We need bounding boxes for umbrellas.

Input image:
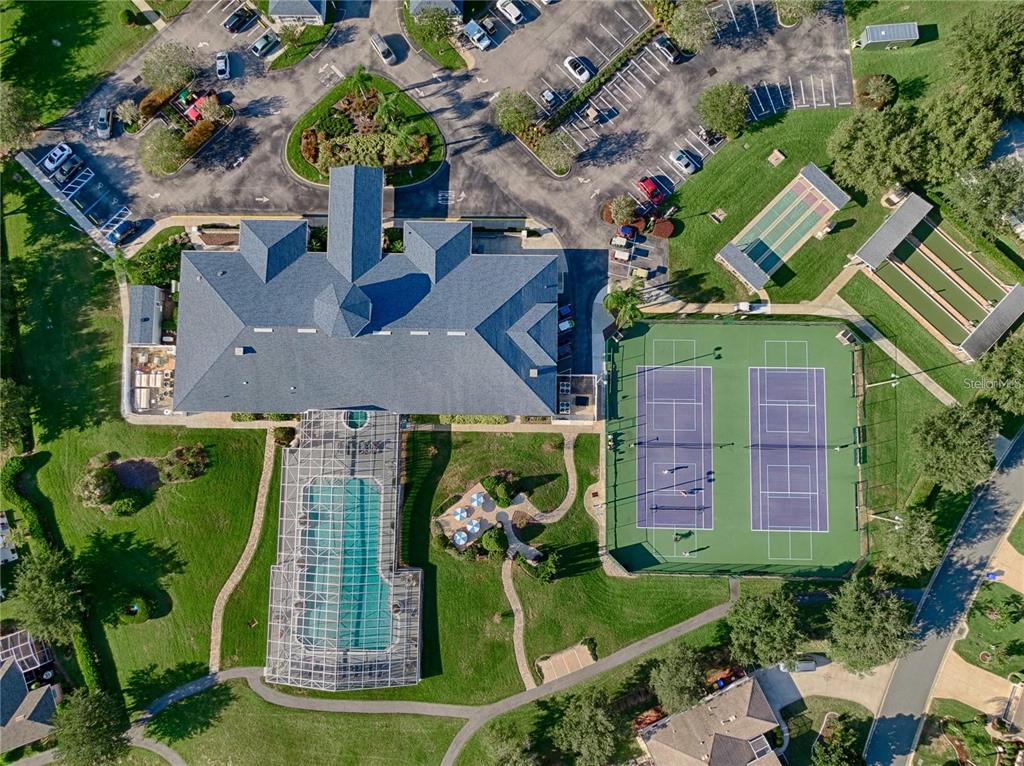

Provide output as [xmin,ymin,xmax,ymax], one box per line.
[470,493,484,507]
[453,507,467,521]
[466,519,480,533]
[454,531,468,545]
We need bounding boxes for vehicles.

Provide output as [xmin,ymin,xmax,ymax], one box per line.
[583,106,599,125]
[250,30,281,58]
[107,219,138,245]
[215,50,230,81]
[368,29,399,66]
[669,149,697,176]
[222,4,255,33]
[463,18,492,49]
[609,237,626,249]
[630,268,648,277]
[616,225,634,238]
[55,153,84,185]
[558,320,575,333]
[541,89,556,108]
[636,175,666,206]
[562,55,591,85]
[96,108,113,139]
[496,0,526,26]
[43,142,72,172]
[558,305,573,318]
[732,302,750,313]
[483,19,498,39]
[654,34,681,64]
[780,658,817,675]
[612,250,630,262]
[700,127,709,138]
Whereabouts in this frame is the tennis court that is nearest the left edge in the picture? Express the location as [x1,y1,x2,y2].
[637,339,714,557]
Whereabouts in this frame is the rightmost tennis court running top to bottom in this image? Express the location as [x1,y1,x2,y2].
[750,341,828,559]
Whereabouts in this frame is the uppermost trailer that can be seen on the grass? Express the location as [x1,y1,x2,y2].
[848,22,919,49]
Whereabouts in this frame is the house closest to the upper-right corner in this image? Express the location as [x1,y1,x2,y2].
[996,211,1024,257]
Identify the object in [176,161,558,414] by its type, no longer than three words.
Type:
building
